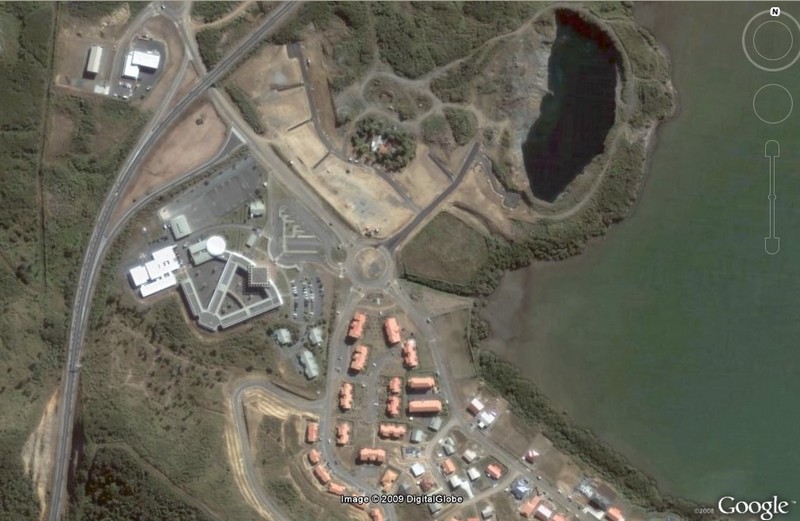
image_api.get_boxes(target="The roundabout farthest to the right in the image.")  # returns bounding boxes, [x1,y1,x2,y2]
[338,238,399,303]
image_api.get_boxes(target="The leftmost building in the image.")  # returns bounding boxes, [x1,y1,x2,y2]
[86,45,102,73]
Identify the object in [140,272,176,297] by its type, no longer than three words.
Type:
building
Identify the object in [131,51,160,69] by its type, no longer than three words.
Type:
building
